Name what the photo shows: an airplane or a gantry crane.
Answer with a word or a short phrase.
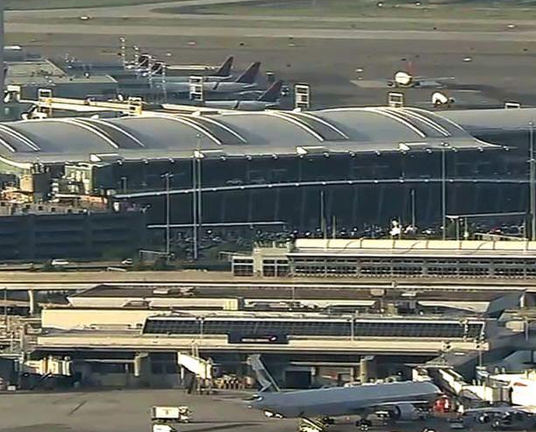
airplane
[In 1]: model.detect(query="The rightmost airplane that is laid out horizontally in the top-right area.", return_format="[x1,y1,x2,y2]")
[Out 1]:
[409,75,483,106]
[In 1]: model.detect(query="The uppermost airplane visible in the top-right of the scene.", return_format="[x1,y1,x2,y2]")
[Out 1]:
[365,47,448,89]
